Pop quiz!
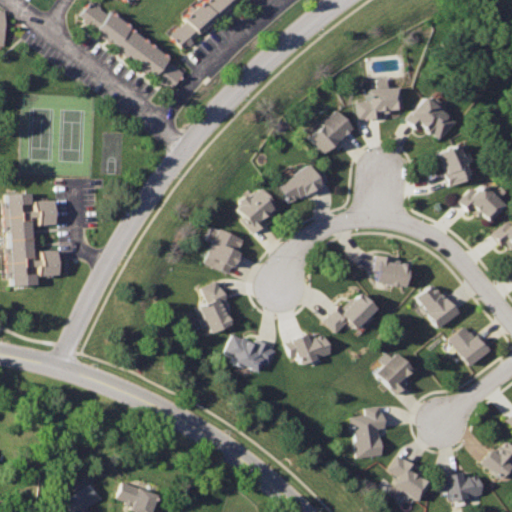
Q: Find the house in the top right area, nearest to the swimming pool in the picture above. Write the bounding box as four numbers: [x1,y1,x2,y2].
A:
[354,79,401,120]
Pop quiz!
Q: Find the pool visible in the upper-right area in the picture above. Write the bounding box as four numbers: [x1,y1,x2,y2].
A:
[366,56,404,79]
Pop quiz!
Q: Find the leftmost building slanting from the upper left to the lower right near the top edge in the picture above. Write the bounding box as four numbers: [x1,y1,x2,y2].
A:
[78,2,185,86]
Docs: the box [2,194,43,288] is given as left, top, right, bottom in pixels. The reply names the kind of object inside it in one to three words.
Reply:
building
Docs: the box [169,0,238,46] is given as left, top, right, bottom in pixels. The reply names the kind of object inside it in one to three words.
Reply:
building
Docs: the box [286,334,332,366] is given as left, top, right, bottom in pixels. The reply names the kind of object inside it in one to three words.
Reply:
house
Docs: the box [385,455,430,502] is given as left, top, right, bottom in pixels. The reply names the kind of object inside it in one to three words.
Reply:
house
